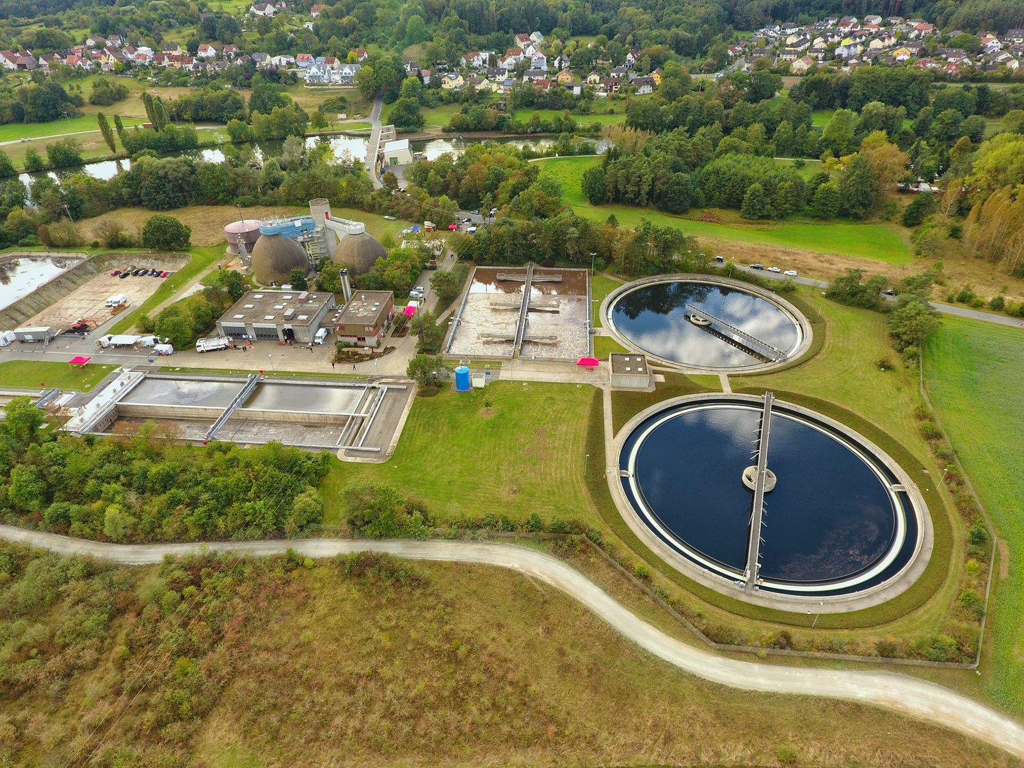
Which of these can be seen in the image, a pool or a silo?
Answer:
silo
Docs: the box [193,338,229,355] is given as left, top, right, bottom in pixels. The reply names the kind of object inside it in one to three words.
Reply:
vehicle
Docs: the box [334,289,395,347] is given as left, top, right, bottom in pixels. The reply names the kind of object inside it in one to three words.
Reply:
building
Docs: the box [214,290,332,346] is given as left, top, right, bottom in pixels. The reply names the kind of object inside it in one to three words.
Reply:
building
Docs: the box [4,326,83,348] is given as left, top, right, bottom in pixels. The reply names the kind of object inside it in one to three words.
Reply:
trailer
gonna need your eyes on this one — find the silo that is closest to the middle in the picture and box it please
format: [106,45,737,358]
[450,363,475,394]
